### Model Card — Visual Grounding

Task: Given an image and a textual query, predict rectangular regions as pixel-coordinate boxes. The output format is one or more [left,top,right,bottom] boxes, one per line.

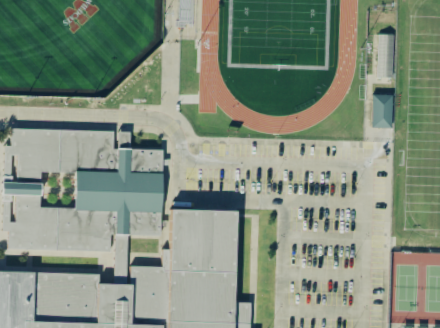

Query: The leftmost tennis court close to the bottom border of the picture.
[394,264,419,312]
